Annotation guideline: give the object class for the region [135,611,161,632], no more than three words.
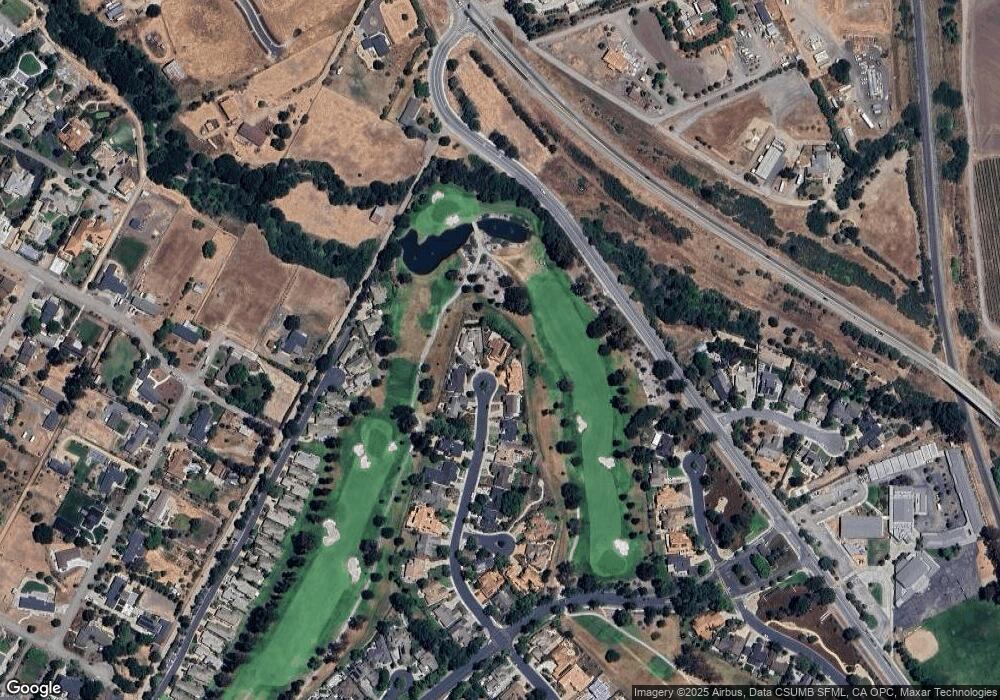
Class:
house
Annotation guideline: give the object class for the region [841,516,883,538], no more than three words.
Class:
building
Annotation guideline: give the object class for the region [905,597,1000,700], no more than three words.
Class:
baseball field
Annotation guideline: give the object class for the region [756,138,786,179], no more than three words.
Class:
barn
